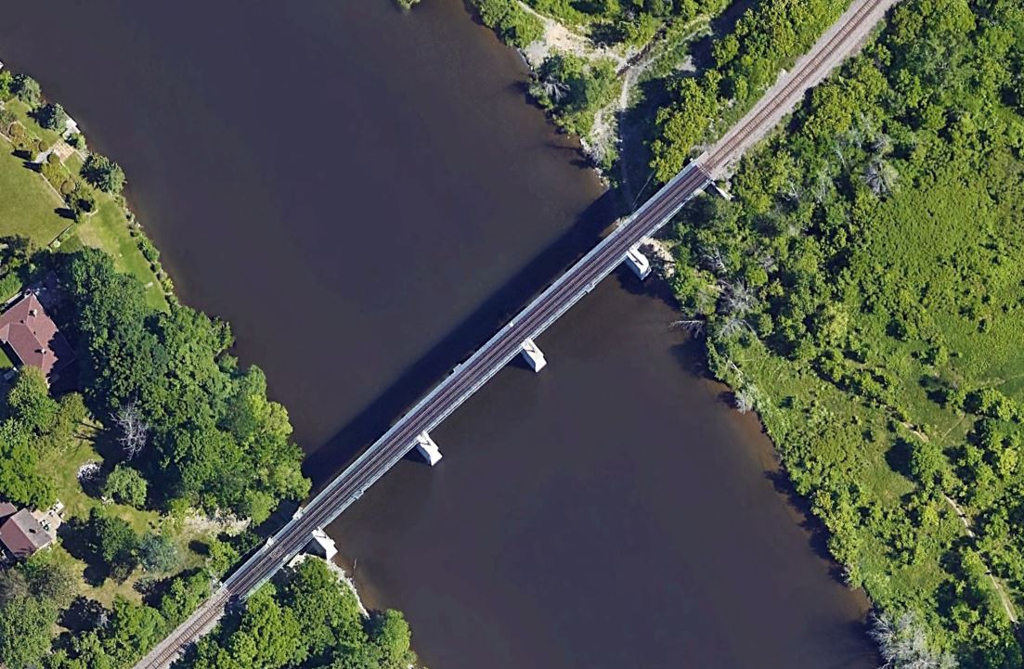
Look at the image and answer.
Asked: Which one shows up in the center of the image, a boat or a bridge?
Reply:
bridge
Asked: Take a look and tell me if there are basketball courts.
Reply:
No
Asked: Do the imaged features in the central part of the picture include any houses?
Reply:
No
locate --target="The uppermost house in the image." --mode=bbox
[0,294,77,382]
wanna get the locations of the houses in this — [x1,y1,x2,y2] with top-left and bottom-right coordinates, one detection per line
[0,508,51,565]
[0,294,77,382]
